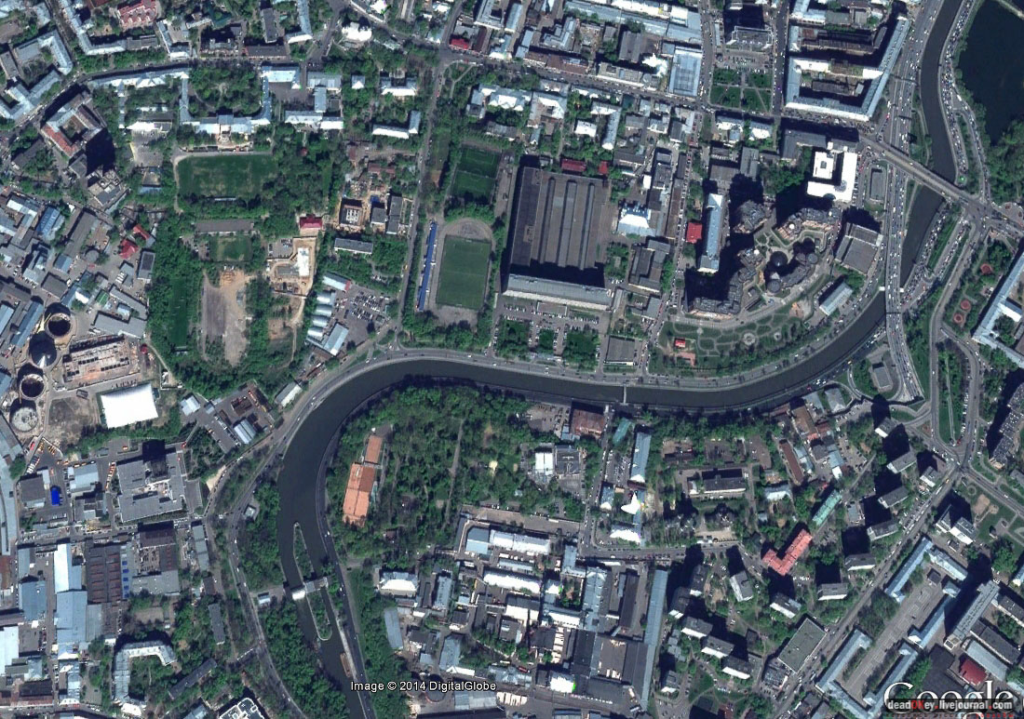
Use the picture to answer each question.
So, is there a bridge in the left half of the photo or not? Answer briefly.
No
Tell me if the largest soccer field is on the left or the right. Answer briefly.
left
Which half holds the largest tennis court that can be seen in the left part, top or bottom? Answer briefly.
bottom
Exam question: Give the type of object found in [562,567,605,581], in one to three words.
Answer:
building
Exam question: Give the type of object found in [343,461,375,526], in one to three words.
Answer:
tennis court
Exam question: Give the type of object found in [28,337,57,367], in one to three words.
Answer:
storage tank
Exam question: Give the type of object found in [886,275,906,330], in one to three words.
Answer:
bridge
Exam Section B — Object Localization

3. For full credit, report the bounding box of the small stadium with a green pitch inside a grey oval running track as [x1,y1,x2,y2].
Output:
[433,217,496,325]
